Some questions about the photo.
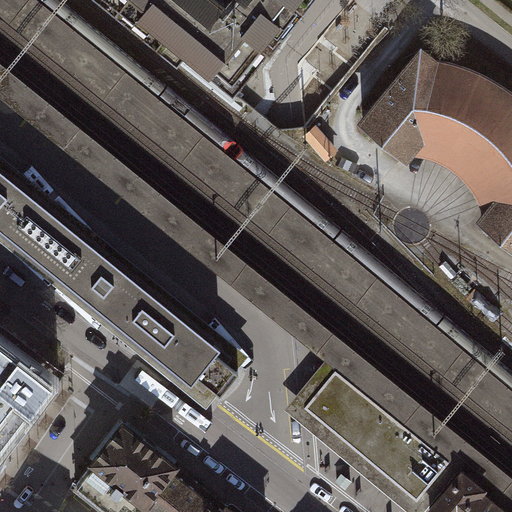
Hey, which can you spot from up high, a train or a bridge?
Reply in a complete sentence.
This aerial view contains a train.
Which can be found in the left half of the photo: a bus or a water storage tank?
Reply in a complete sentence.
What appears in the left half of the photo is a bus.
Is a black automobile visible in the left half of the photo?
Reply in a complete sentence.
Yes, there is a black automobile in the left half of the photo.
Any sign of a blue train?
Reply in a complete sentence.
No, the scene contains no blue train.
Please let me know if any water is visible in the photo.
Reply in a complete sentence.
No, water can't be seen anywhere here.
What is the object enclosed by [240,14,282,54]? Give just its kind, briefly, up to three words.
shed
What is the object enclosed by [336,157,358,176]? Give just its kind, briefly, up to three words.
vehicle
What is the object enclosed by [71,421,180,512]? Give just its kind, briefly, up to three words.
house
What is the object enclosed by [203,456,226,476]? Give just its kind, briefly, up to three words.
car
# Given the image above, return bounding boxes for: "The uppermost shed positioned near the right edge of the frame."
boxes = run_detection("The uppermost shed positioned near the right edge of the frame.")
[356,50,512,258]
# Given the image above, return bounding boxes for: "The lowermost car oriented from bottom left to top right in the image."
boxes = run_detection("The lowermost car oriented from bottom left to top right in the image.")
[13,486,34,509]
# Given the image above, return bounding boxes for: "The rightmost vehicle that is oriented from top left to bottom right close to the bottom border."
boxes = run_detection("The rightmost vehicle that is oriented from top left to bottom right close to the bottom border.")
[310,483,332,504]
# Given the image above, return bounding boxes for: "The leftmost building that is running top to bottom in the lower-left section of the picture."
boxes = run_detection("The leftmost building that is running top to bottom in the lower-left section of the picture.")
[0,334,60,470]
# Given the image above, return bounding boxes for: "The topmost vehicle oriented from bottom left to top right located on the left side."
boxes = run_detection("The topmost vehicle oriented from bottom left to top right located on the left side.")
[48,420,65,441]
